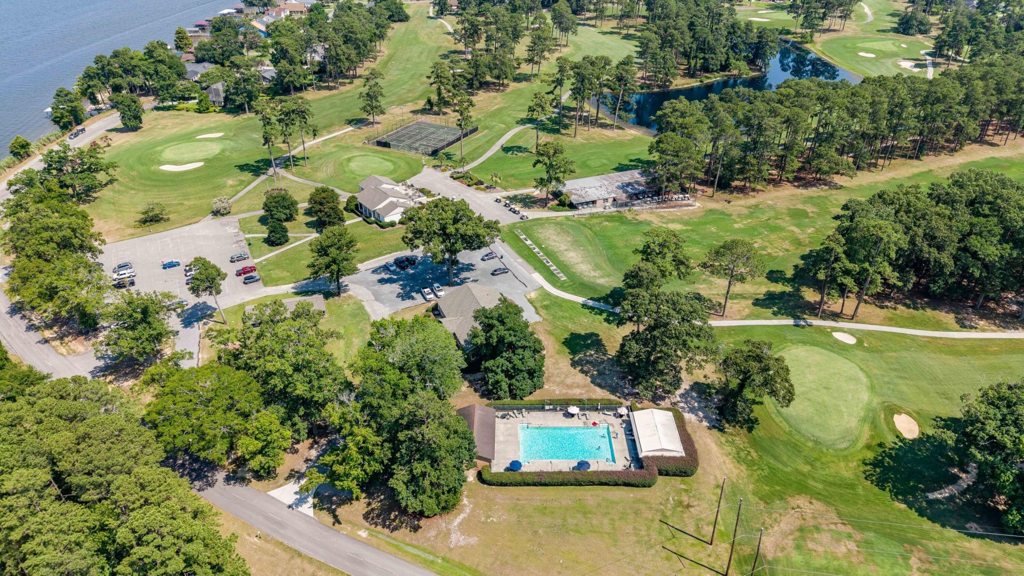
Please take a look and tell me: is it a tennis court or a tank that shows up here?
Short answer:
tennis court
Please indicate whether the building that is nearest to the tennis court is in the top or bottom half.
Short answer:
top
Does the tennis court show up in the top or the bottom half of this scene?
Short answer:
top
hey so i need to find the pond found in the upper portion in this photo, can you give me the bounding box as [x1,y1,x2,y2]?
[589,39,860,134]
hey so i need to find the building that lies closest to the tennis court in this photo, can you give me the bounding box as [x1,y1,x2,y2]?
[357,173,411,223]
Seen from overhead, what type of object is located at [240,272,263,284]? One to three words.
vehicle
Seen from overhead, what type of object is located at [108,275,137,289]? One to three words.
vehicle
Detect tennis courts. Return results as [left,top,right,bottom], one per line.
[370,120,470,156]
